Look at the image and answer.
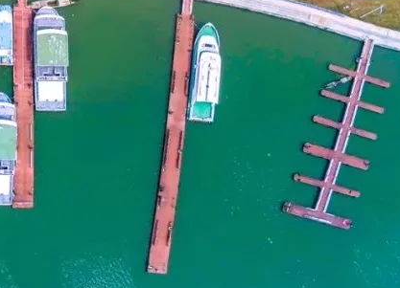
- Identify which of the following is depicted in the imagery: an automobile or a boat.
boat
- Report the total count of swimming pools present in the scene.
0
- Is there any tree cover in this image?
No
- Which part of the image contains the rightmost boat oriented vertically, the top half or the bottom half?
top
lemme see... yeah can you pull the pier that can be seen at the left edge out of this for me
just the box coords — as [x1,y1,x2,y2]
[12,0,34,208]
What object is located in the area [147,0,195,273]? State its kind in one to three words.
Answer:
pier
